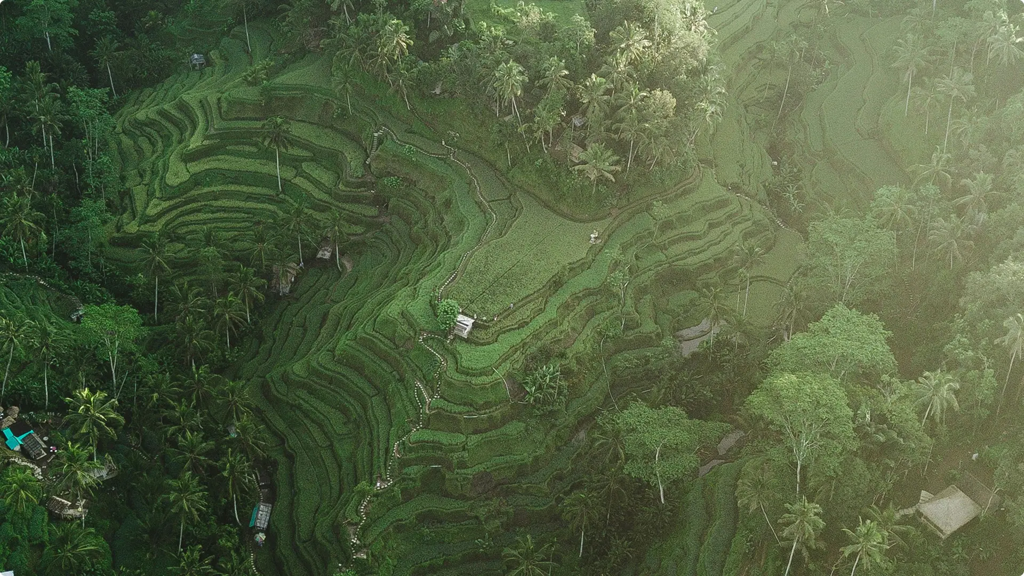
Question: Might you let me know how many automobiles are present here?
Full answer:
The picture shows no automobiles.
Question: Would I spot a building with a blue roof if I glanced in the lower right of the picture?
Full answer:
No, I see no building with a blue roof in the lower right of the picture.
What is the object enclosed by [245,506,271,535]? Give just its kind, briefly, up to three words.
shed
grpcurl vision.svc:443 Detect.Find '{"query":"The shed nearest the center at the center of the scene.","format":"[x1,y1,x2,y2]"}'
[445,311,478,352]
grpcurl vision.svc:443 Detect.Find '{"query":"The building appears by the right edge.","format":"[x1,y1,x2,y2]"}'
[918,490,987,545]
